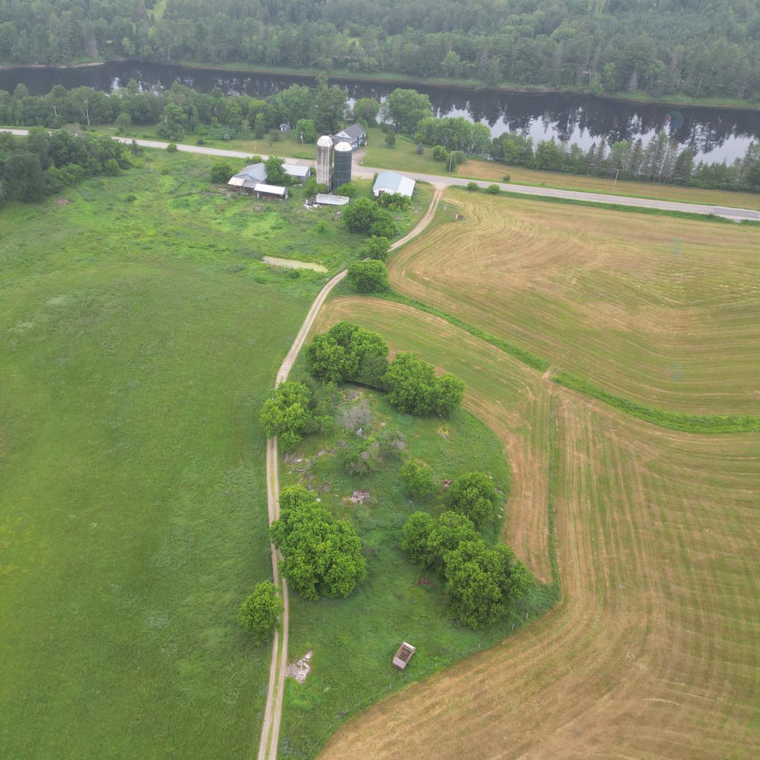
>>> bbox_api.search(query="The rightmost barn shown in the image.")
[373,171,414,200]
